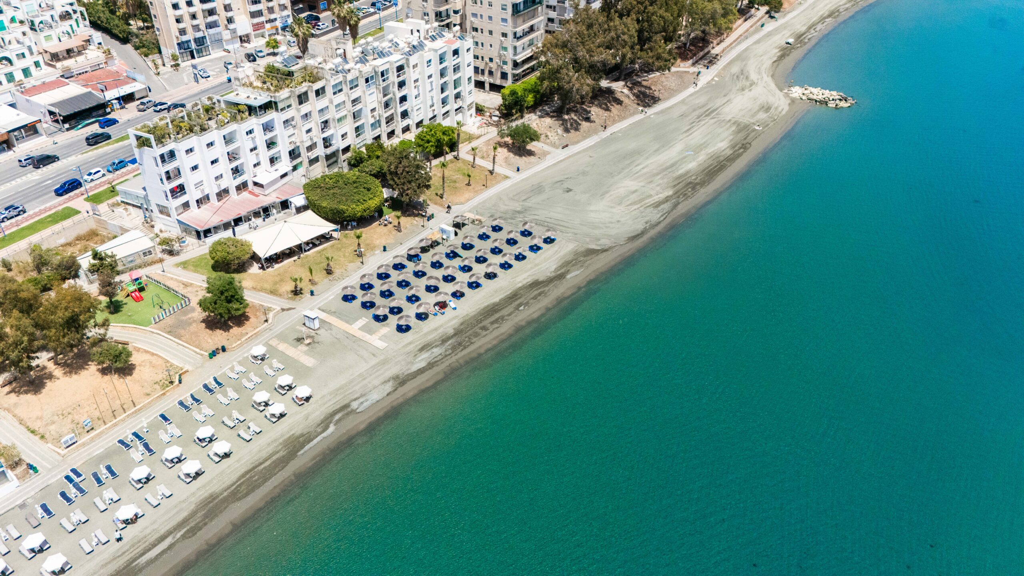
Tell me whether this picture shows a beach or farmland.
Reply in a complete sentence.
The area seen from above is a beach.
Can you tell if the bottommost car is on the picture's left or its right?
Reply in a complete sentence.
The bottommost car sits on the left side.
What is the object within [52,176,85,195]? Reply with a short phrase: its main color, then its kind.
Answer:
blue car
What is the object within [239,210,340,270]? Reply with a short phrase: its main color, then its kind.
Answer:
white tent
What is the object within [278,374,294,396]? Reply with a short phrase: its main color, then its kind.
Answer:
white umbrella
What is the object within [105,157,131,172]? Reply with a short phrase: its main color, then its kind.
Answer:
blue car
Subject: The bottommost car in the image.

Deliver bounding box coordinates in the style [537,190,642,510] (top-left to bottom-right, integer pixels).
[0,201,32,221]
